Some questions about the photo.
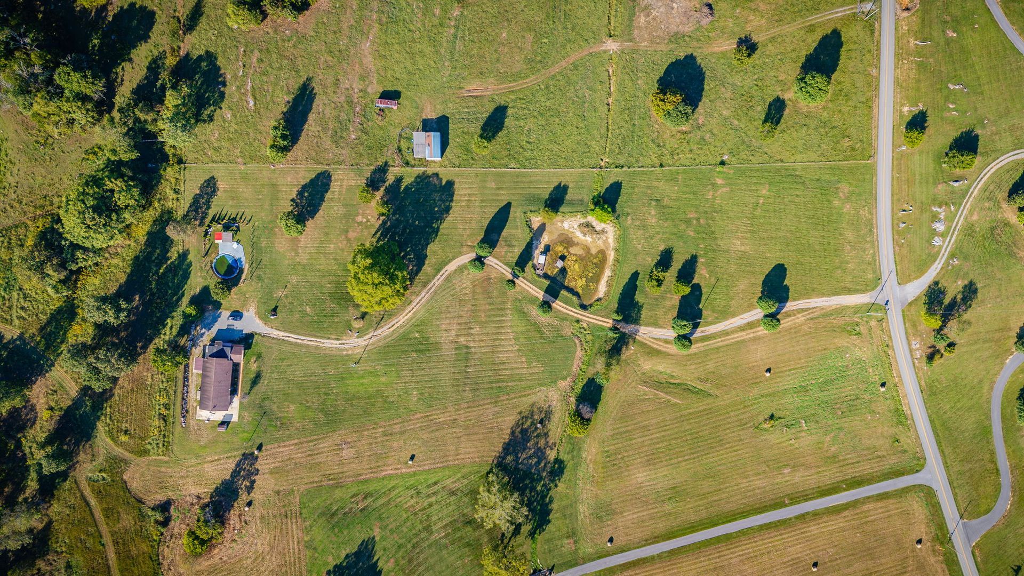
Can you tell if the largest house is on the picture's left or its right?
left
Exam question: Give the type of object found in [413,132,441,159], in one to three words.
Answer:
barn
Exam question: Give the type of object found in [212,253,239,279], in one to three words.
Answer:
swimming pool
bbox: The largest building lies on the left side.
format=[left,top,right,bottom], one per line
[194,344,247,421]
